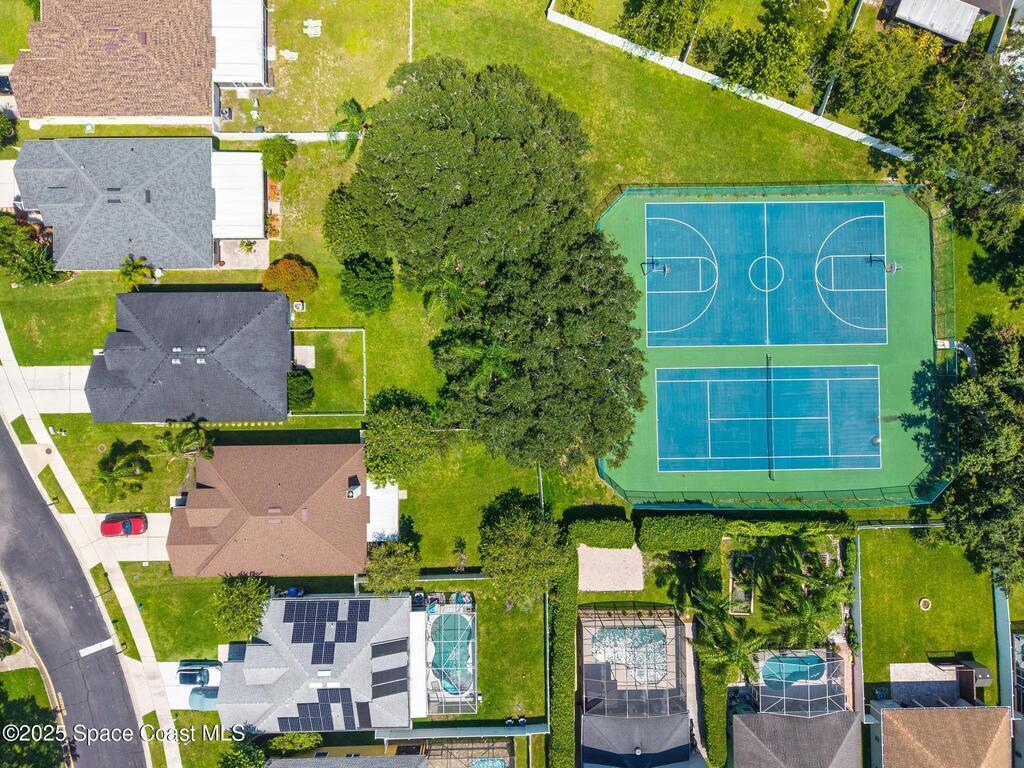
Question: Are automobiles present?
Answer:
Yes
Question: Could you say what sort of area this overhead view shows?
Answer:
residential area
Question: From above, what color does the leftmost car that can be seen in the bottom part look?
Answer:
red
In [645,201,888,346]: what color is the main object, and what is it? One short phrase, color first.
blue basketball court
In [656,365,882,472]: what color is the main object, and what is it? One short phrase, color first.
blue tennis court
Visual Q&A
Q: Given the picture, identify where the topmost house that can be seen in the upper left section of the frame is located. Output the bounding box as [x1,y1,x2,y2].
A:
[9,0,272,125]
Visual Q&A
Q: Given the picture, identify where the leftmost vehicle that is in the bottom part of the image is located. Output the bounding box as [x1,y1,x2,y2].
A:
[99,517,148,539]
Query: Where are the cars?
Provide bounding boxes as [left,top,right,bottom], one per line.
[188,689,218,712]
[176,667,221,691]
[99,517,148,539]
[0,75,13,95]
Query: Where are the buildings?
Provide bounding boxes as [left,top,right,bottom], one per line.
[12,137,272,271]
[9,0,272,125]
[728,705,862,768]
[165,444,402,577]
[888,0,1010,44]
[583,707,691,768]
[872,697,1012,768]
[216,594,430,732]
[265,744,430,768]
[84,292,292,426]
